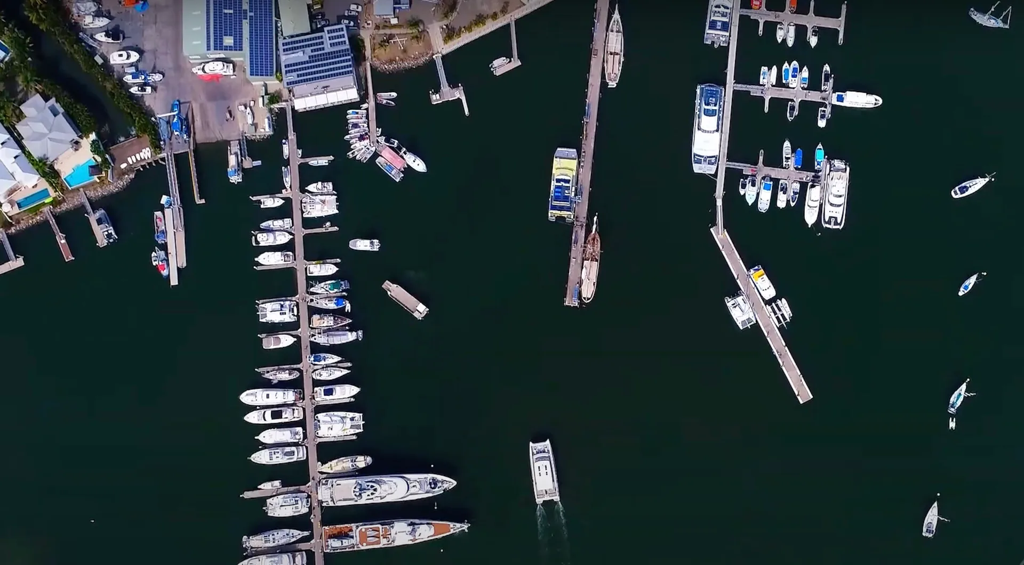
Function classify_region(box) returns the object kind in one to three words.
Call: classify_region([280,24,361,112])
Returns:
building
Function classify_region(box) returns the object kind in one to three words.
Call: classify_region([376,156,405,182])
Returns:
ship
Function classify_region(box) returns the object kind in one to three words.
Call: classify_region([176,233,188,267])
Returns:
pier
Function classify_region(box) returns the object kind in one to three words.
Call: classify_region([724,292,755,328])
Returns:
boat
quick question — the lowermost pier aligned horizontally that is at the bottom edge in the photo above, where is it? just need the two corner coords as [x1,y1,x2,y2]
[249,540,315,555]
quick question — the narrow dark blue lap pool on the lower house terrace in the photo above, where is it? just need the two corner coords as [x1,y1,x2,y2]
[3,180,53,215]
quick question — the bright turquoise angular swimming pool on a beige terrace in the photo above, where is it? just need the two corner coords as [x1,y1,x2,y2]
[52,137,97,188]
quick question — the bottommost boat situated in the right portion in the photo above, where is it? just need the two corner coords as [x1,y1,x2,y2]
[923,501,953,536]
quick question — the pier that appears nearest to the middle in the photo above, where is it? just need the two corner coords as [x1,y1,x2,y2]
[565,224,587,306]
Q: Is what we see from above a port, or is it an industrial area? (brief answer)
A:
port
